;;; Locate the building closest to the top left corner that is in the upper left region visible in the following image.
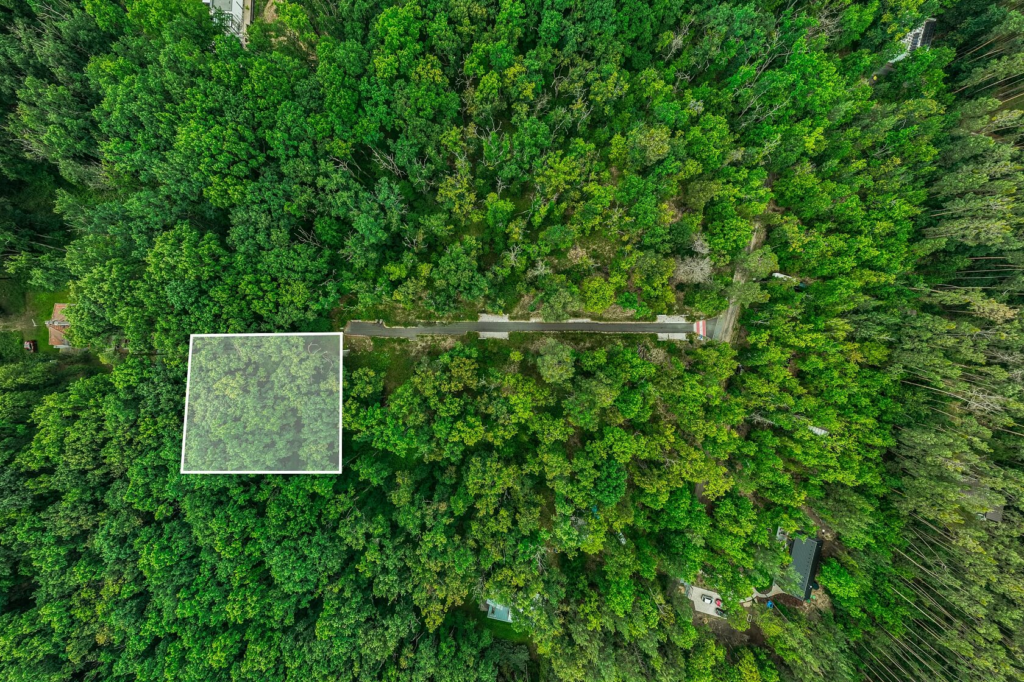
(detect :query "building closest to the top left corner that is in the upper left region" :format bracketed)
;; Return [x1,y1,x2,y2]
[206,0,249,56]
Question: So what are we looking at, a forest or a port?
forest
